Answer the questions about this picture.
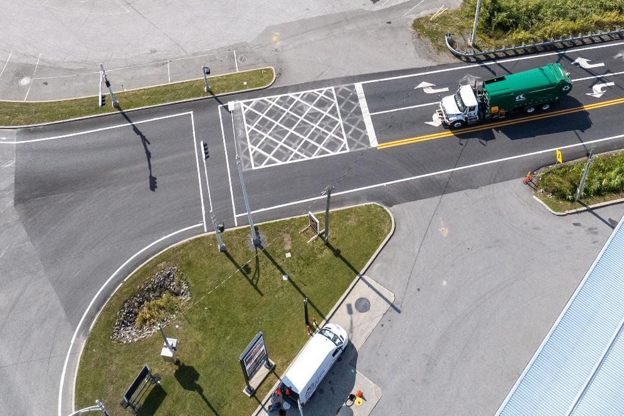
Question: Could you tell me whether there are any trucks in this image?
Yes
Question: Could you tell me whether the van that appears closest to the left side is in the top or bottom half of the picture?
bottom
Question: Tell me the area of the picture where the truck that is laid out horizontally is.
top right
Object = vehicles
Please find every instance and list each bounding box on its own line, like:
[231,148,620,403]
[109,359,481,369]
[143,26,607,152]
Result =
[434,61,582,129]
[269,326,355,416]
